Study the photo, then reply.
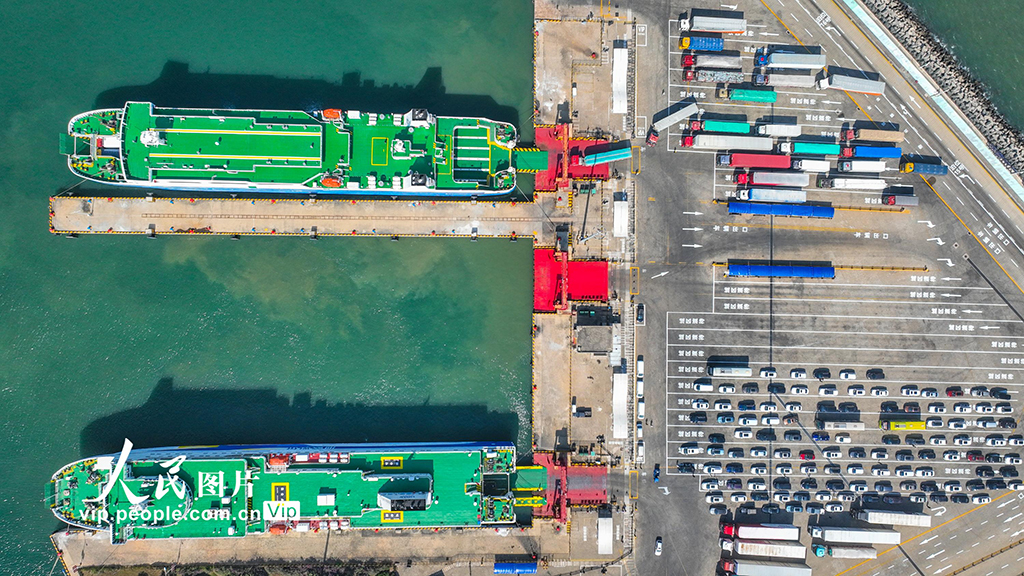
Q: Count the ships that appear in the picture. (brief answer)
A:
2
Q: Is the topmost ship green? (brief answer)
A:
Yes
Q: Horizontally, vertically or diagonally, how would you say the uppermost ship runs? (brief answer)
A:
horizontally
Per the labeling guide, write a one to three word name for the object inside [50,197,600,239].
pier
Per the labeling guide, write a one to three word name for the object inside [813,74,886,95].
truck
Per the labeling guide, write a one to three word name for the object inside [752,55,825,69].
vehicle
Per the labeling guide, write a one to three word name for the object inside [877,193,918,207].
vehicle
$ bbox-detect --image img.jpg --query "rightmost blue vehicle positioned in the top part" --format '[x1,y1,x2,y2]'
[894,160,948,175]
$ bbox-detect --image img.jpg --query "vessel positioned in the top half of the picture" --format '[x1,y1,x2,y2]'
[59,102,548,196]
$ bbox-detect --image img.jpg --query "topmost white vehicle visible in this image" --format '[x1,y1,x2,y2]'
[677,18,746,33]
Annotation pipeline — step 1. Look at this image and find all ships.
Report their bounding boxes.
[45,442,547,545]
[59,102,548,196]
